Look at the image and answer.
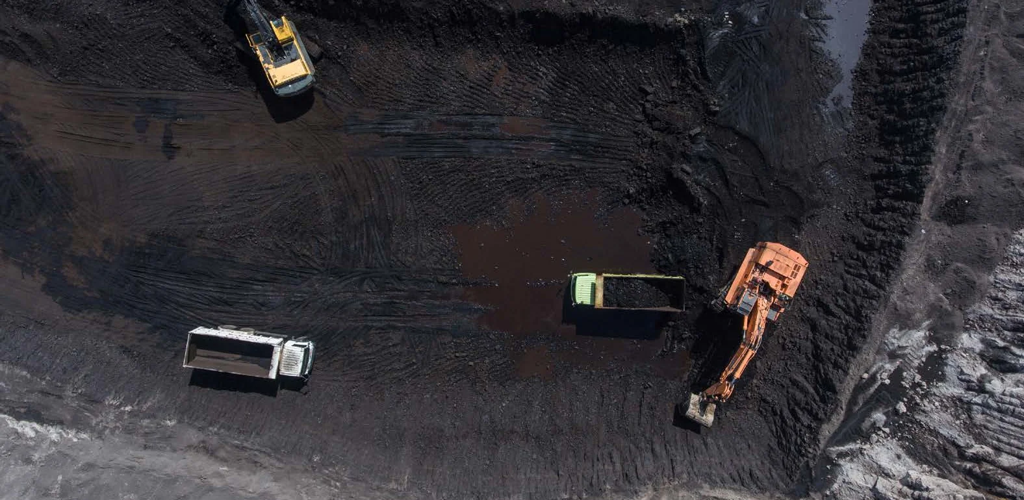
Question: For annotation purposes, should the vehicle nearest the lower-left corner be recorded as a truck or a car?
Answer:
truck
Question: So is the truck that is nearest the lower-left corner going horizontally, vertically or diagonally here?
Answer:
horizontally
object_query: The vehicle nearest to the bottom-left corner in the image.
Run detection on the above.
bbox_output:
[185,328,318,385]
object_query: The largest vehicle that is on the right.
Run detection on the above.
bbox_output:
[683,241,806,425]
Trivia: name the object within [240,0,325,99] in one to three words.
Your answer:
work vehicle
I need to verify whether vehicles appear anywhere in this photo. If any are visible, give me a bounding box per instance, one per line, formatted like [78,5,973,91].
[185,328,318,385]
[567,269,686,312]
[683,241,806,425]
[240,0,325,99]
